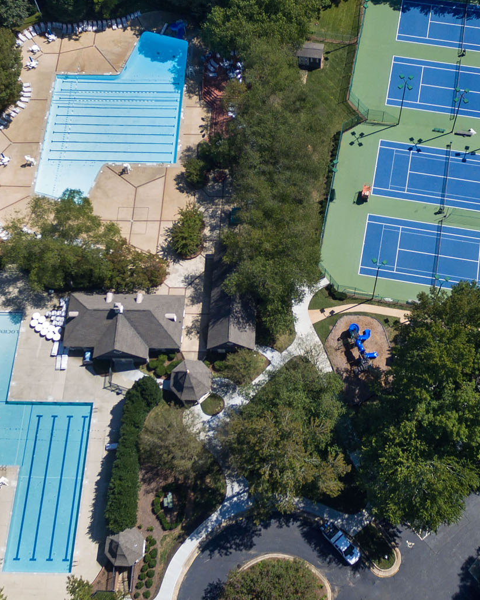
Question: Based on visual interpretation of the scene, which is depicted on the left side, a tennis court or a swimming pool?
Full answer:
It is a swimming pool that can be seen on the left side.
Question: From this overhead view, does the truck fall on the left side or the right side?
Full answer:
You can find the truck on the right side of the picture.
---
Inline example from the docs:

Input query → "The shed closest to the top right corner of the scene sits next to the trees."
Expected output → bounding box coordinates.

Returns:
[297,45,326,69]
